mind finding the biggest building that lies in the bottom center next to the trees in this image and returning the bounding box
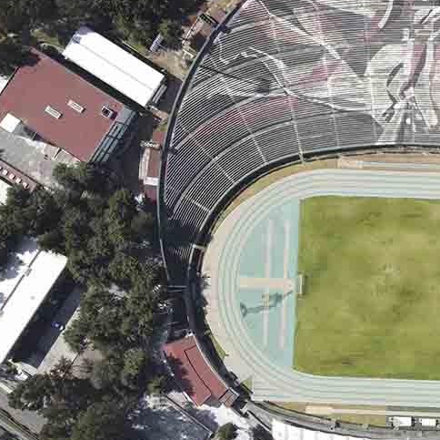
[165,333,232,406]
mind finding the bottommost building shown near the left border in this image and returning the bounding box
[0,233,76,364]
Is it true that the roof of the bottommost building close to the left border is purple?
No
